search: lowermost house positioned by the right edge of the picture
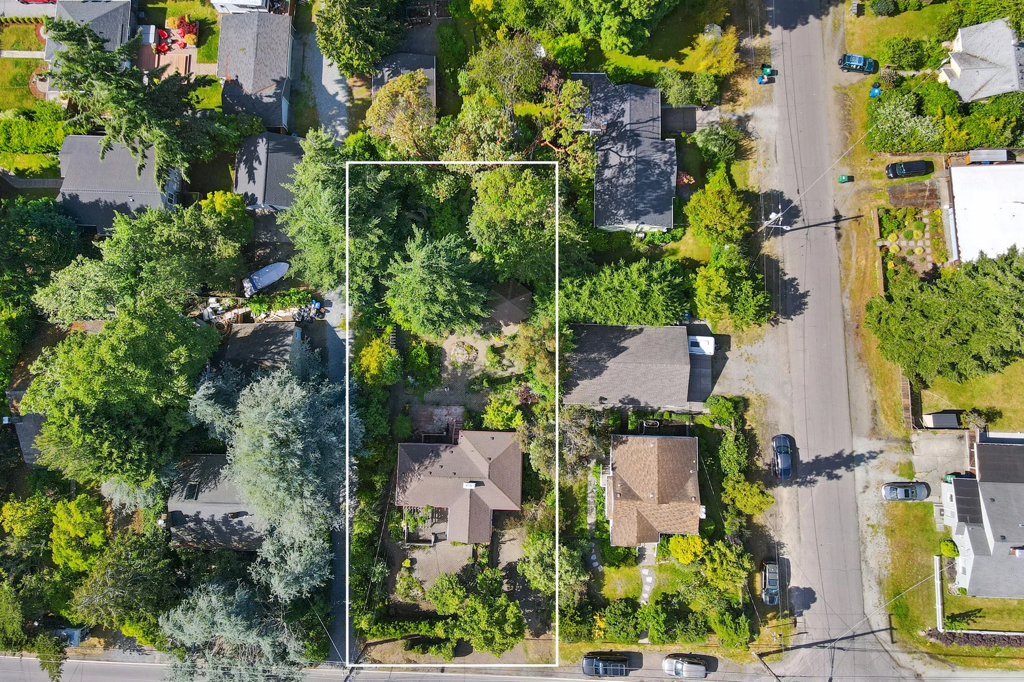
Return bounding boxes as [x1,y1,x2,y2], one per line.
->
[940,442,1024,598]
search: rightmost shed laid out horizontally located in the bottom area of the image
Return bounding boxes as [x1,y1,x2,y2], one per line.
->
[921,413,959,428]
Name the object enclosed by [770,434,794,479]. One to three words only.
car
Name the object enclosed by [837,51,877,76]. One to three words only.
car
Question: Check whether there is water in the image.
No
